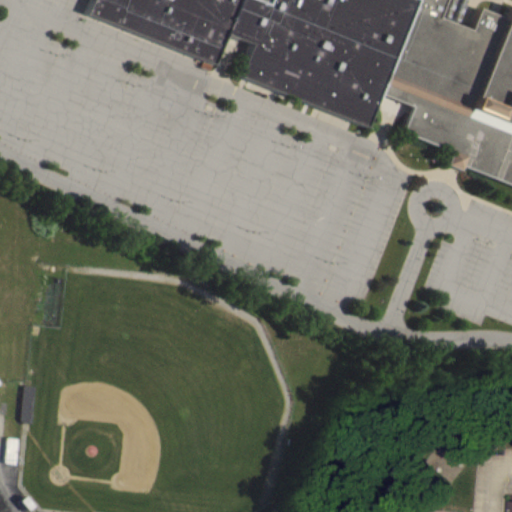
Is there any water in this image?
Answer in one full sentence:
No, no water is visible.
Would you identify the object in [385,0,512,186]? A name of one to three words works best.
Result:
building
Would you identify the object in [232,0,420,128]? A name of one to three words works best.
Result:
building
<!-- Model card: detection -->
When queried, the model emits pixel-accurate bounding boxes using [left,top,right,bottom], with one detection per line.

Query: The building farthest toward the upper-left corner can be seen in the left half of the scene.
[84,0,244,66]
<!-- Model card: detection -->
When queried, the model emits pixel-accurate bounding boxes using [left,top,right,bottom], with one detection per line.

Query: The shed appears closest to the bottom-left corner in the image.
[4,437,20,466]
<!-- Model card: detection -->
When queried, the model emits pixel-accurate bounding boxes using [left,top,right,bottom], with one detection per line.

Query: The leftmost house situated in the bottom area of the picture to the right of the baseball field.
[428,452,465,484]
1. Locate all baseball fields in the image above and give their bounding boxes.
[26,276,281,512]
